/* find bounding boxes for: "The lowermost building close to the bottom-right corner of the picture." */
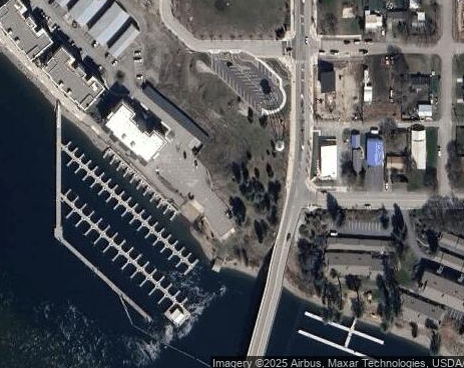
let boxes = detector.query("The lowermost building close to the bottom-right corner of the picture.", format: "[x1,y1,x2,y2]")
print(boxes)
[398,293,445,330]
